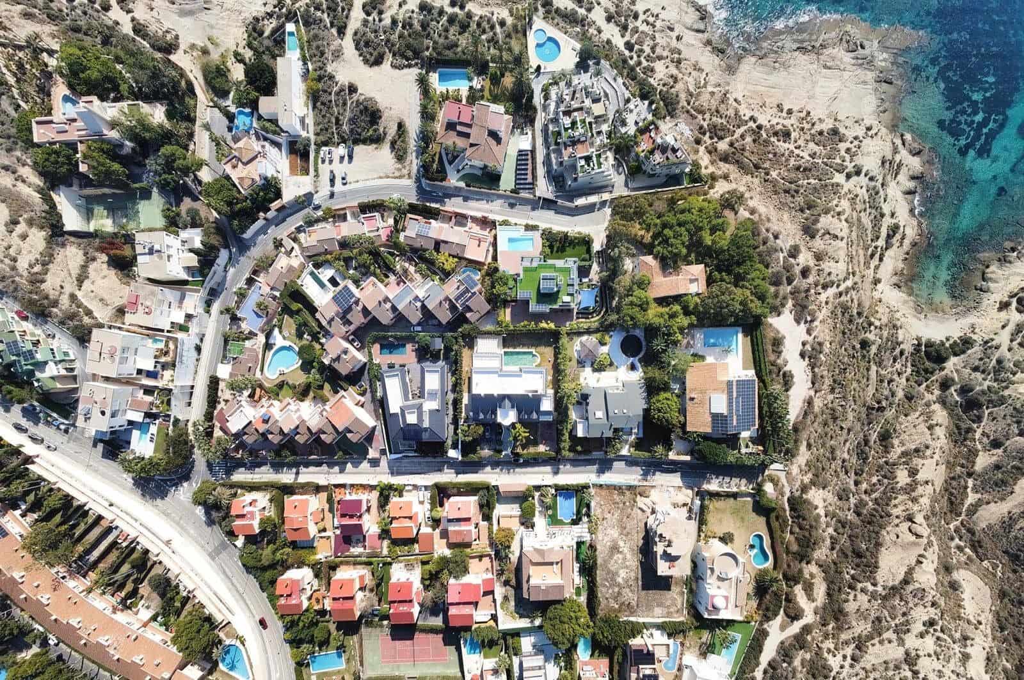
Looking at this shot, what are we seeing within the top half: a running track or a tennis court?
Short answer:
tennis court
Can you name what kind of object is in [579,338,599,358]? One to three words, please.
gazebo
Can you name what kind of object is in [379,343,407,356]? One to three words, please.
swimming pool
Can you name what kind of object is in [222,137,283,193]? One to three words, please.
house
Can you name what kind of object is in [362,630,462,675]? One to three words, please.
tennis court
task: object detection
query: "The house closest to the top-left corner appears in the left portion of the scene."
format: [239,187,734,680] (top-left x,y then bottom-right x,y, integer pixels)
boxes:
[35,96,168,146]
